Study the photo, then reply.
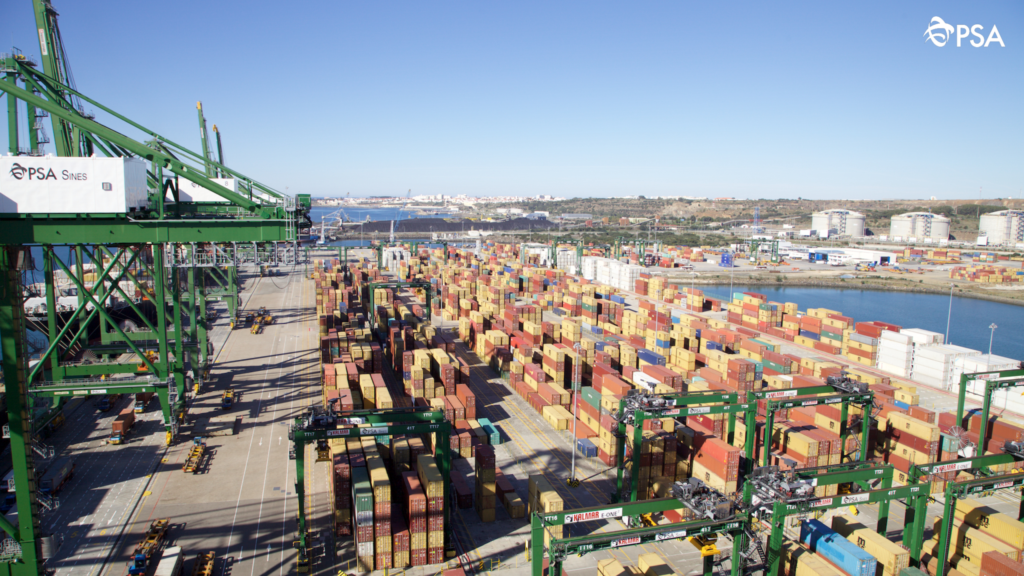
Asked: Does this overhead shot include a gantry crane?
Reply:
Yes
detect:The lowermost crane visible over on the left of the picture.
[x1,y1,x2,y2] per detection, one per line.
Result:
[287,389,451,576]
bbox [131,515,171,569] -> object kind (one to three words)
work vehicle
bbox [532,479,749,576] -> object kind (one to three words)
container crane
